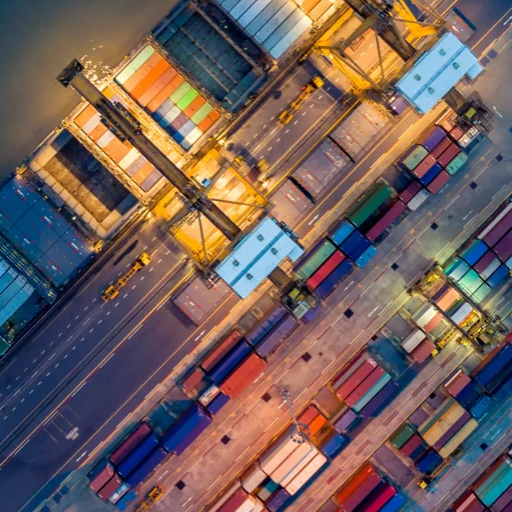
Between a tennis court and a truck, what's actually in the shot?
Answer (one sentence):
The one in the frame is a truck.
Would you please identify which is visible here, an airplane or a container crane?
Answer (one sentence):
It is a container crane that can be seen here.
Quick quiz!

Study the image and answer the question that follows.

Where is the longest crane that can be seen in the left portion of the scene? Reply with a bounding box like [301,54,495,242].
[57,61,306,301]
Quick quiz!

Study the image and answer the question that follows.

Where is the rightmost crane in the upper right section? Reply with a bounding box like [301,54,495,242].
[427,86,509,148]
